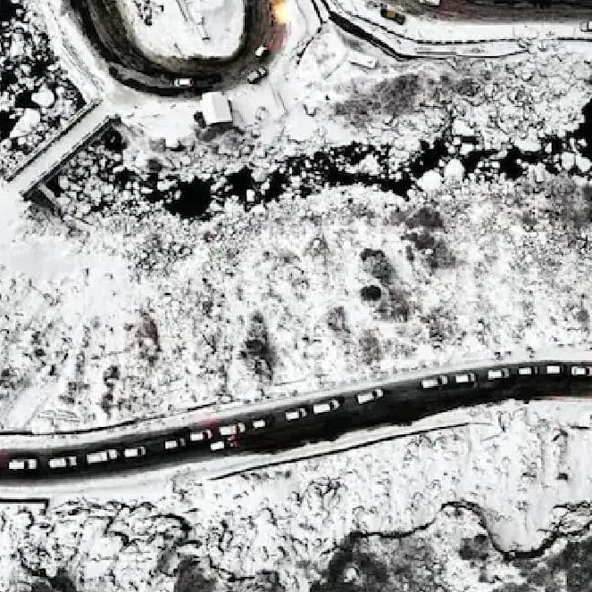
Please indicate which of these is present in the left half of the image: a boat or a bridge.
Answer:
bridge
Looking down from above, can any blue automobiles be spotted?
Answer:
No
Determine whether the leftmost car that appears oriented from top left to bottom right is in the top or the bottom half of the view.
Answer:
top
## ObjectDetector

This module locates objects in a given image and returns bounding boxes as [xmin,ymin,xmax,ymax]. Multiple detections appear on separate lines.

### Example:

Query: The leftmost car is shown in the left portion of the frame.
[10,457,38,469]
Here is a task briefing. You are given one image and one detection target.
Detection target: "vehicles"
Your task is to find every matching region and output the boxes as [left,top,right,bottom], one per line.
[246,67,270,85]
[285,407,309,419]
[357,388,384,404]
[570,366,592,377]
[419,0,441,7]
[220,421,246,436]
[520,366,541,377]
[545,365,566,376]
[89,449,117,463]
[51,455,79,467]
[125,445,148,457]
[314,399,341,414]
[10,457,38,469]
[165,436,188,448]
[581,20,592,32]
[423,375,448,388]
[191,428,214,440]
[252,416,275,428]
[273,0,288,27]
[381,6,405,26]
[174,77,196,88]
[488,368,511,379]
[455,372,477,384]
[213,436,239,449]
